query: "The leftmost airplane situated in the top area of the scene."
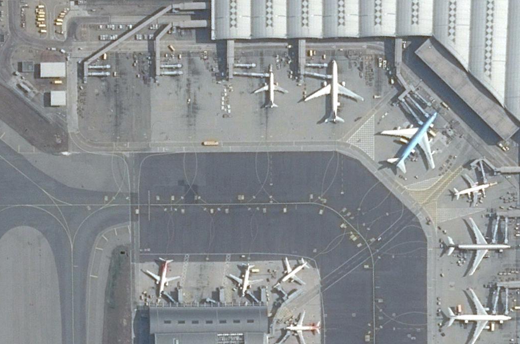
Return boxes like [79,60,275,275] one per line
[255,65,288,107]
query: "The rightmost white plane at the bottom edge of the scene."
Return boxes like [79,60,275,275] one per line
[449,289,511,344]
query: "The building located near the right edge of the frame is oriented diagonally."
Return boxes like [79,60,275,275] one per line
[415,37,520,144]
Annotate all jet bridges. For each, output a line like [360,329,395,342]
[234,70,269,78]
[206,297,218,304]
[160,62,184,69]
[401,98,422,124]
[492,216,501,243]
[278,285,290,299]
[277,331,290,344]
[406,92,429,117]
[492,287,501,315]
[503,287,509,315]
[161,292,178,304]
[88,63,111,70]
[413,88,431,106]
[305,70,333,79]
[305,62,328,69]
[234,62,257,68]
[246,291,261,304]
[88,71,111,77]
[503,216,509,244]
[481,163,489,183]
[160,70,184,76]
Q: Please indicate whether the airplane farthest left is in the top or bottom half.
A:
bottom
